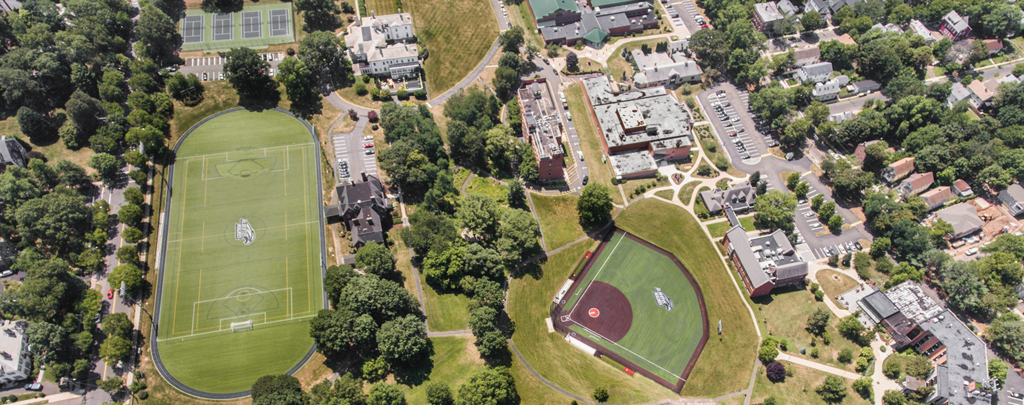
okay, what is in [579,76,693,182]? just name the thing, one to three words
building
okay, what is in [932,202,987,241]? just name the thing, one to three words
house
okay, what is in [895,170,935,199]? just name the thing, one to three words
house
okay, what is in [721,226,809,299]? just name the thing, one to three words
building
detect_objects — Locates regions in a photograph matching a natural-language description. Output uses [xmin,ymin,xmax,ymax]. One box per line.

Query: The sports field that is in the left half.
[157,109,319,392]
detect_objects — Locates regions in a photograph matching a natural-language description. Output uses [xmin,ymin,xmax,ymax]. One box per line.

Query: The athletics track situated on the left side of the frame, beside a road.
[149,105,327,399]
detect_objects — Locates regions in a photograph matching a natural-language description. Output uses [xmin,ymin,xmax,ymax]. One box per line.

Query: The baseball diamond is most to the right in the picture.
[552,227,710,393]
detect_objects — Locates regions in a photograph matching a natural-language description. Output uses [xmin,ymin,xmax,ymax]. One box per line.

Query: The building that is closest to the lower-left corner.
[0,318,41,385]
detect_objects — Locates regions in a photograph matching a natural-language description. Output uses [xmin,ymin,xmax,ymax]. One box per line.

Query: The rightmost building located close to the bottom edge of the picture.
[856,284,1006,405]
